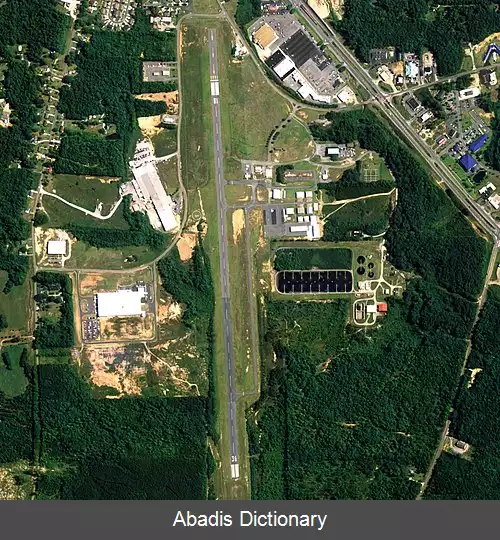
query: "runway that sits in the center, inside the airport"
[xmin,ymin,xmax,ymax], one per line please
[209,29,238,479]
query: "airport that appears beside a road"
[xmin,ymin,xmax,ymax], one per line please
[209,29,318,479]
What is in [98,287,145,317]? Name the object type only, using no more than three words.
building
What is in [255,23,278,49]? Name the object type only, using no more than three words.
building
